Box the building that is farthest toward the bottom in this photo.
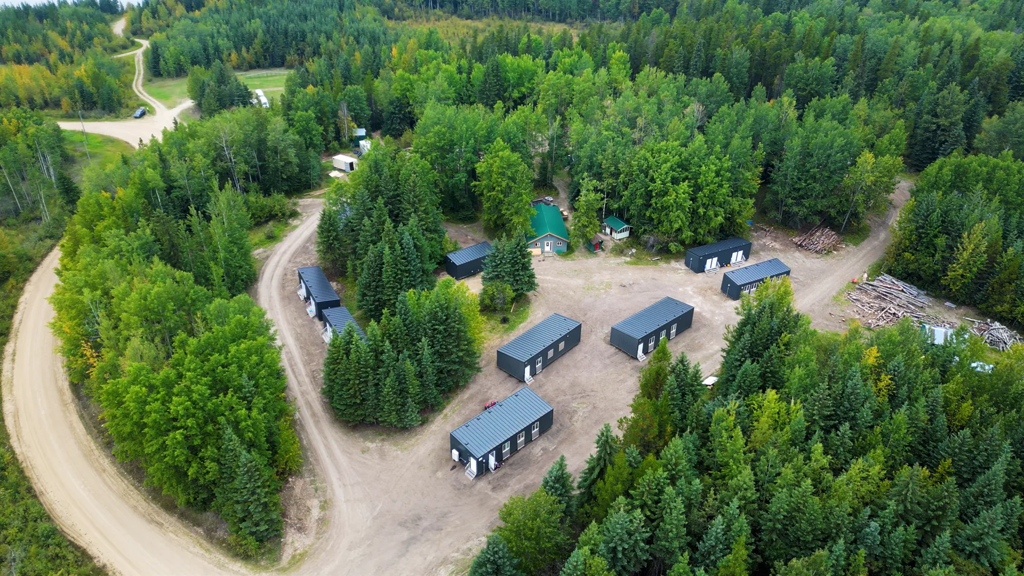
[448,387,555,483]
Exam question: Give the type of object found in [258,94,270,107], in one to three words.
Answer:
vehicle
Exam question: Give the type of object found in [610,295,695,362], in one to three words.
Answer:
building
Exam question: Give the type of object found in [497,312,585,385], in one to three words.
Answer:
building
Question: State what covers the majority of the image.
trees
